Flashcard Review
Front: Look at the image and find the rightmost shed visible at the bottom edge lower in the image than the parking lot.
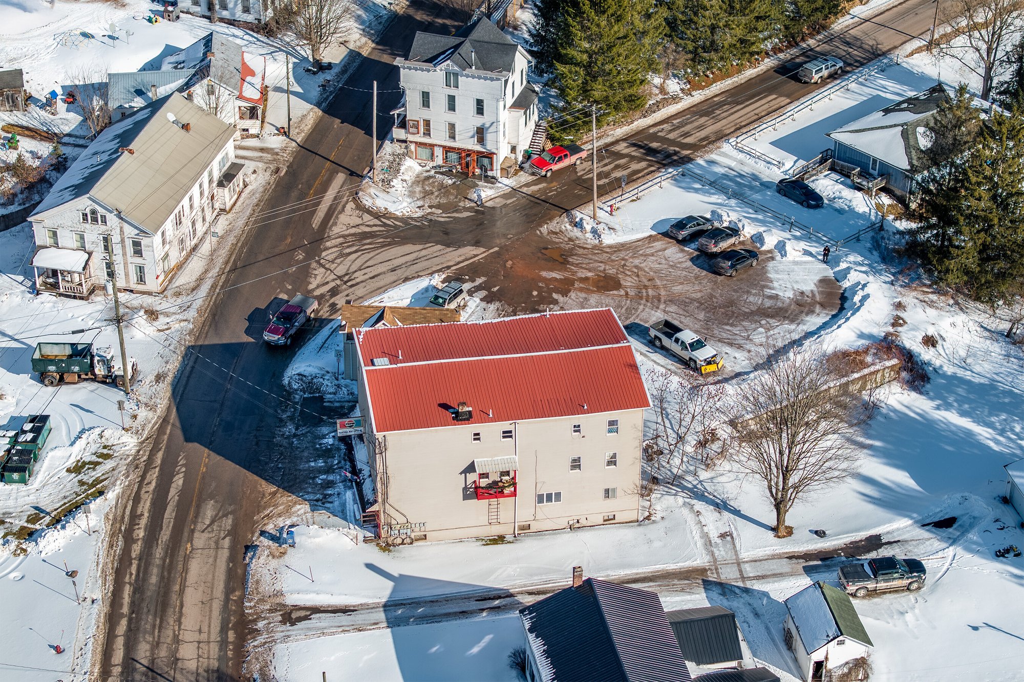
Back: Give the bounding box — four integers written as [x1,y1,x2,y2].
[785,582,875,682]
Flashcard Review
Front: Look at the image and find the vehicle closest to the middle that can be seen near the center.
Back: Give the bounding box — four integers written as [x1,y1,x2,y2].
[421,280,472,316]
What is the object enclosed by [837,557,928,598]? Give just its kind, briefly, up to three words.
truck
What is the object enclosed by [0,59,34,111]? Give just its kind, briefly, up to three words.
barn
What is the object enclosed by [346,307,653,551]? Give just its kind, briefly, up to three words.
building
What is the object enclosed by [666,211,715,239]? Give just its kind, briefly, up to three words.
car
